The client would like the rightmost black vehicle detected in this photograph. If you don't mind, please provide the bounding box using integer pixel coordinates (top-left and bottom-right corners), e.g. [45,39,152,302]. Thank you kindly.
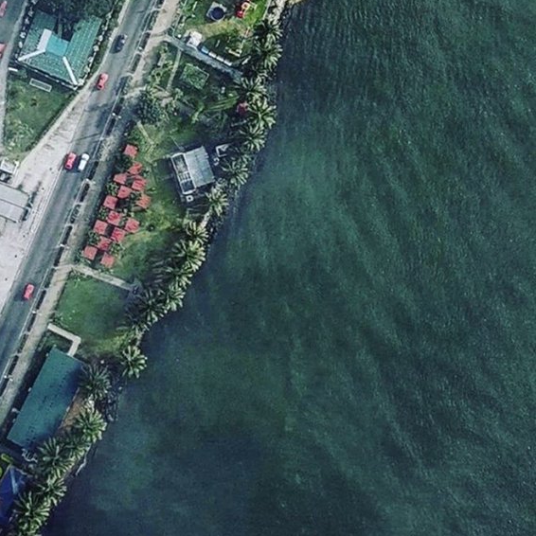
[113,33,125,52]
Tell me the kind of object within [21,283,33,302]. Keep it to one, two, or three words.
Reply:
vehicle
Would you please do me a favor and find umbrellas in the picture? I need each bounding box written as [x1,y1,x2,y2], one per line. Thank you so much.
[111,227,127,243]
[123,216,140,234]
[135,193,152,211]
[112,171,128,185]
[107,209,122,225]
[95,234,112,252]
[100,252,115,269]
[82,244,99,261]
[127,160,143,176]
[131,175,146,191]
[122,142,140,159]
[92,219,109,235]
[117,184,132,200]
